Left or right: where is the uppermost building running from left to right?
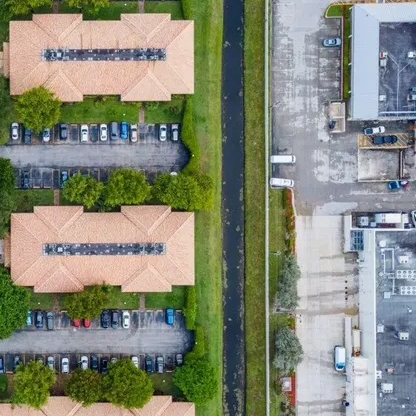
left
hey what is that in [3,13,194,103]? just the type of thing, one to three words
building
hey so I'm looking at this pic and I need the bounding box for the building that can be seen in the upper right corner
[349,4,416,120]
